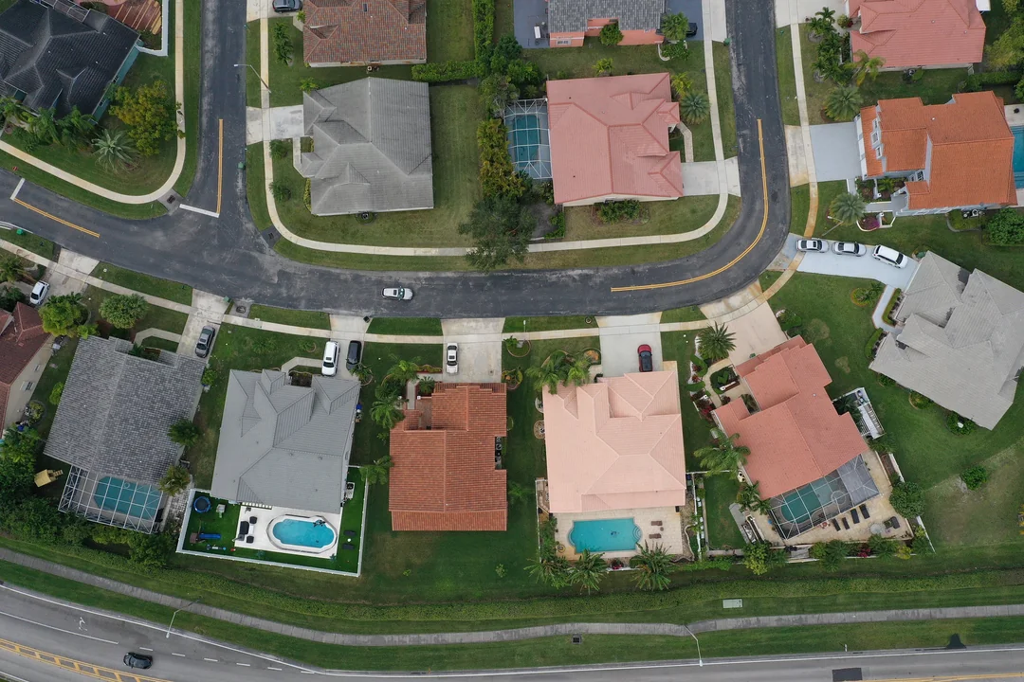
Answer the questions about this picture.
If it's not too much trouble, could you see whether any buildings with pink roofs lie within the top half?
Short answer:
Yes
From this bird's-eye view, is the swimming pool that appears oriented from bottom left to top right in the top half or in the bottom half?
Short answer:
bottom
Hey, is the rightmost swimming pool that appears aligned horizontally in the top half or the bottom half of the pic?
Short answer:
bottom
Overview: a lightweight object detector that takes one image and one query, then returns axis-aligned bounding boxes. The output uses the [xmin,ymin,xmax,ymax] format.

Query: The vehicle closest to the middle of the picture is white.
[444,343,458,374]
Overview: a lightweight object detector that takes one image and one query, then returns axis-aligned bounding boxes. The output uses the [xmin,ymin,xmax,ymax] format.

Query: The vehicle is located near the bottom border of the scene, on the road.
[122,651,155,669]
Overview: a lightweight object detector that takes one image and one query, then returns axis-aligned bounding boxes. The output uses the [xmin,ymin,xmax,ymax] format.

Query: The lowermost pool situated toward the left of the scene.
[267,513,341,554]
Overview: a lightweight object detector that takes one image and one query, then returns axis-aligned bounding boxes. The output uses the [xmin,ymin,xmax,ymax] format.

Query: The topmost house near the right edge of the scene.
[846,0,986,71]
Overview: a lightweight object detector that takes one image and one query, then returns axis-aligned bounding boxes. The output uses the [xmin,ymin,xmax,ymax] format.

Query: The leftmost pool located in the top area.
[513,111,543,169]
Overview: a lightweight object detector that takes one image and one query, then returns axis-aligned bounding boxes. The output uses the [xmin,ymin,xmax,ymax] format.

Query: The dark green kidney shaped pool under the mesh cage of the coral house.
[777,479,840,527]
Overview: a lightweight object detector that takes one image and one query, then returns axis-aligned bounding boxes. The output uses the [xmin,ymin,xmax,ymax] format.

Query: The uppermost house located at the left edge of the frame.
[0,0,143,126]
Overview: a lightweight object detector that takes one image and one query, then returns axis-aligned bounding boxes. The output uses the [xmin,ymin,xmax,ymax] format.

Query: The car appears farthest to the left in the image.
[29,278,51,307]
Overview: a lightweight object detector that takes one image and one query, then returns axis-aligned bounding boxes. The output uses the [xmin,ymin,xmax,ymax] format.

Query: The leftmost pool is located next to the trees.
[91,475,165,522]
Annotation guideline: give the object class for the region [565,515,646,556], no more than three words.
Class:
swimming pool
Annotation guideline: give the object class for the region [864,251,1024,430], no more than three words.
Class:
house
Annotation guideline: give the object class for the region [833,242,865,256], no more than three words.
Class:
car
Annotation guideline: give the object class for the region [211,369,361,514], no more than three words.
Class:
house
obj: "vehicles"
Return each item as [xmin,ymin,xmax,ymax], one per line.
[270,0,301,12]
[833,242,865,256]
[444,343,458,374]
[122,651,155,669]
[321,341,339,376]
[345,341,362,370]
[638,344,652,372]
[381,286,414,301]
[797,238,828,252]
[872,244,907,267]
[29,278,51,307]
[195,325,216,358]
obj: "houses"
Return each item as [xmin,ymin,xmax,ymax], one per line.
[43,336,210,487]
[548,0,662,42]
[0,0,143,126]
[855,91,1018,216]
[846,0,986,71]
[388,382,507,531]
[303,0,427,68]
[864,251,1024,430]
[301,76,434,216]
[211,369,361,514]
[0,302,54,440]
[547,72,684,205]
[714,335,869,500]
[542,371,686,512]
